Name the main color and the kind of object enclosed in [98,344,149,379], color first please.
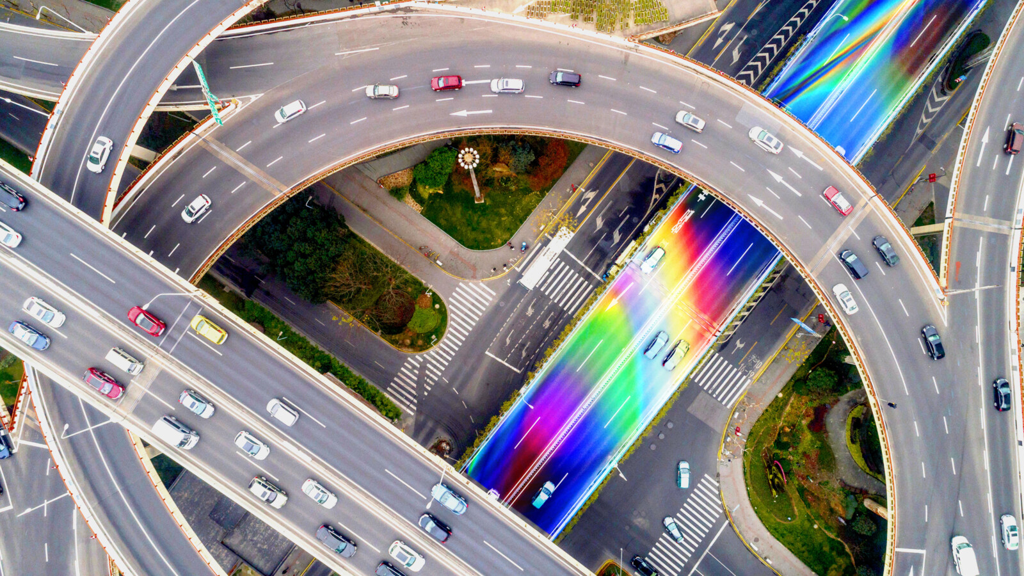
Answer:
white van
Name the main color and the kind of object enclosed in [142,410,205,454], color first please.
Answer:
white vehicle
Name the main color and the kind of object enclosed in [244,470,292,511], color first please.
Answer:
white car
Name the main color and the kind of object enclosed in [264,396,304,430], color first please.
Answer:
white car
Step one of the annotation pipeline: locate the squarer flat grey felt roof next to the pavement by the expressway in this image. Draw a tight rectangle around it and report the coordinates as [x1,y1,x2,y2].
[226,529,300,576]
